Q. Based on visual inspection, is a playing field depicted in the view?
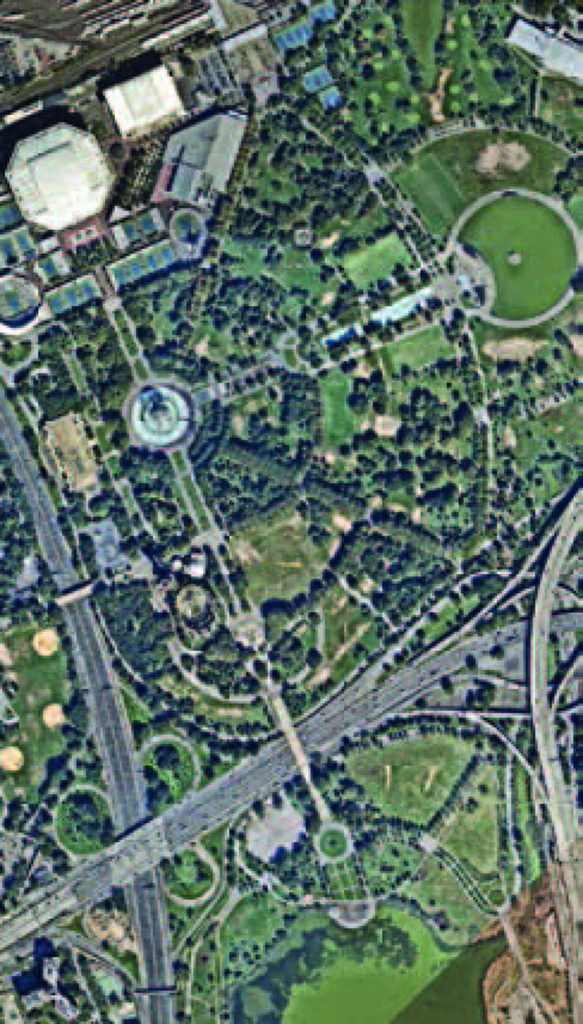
Yes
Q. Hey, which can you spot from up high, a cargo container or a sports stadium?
sports stadium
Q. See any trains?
Yes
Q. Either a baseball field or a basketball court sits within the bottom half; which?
baseball field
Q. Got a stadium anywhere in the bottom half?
No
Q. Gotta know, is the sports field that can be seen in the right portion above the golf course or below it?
below it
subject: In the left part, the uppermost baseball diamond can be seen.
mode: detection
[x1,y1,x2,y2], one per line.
[31,627,61,657]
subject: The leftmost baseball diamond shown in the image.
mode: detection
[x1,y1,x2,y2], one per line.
[0,743,26,774]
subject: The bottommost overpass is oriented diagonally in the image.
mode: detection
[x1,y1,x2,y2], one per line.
[108,807,190,882]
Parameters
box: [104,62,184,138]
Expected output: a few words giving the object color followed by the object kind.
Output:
white stadium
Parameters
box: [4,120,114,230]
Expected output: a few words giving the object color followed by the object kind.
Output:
white stadium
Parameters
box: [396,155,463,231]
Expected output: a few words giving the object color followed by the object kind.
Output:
green sports field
